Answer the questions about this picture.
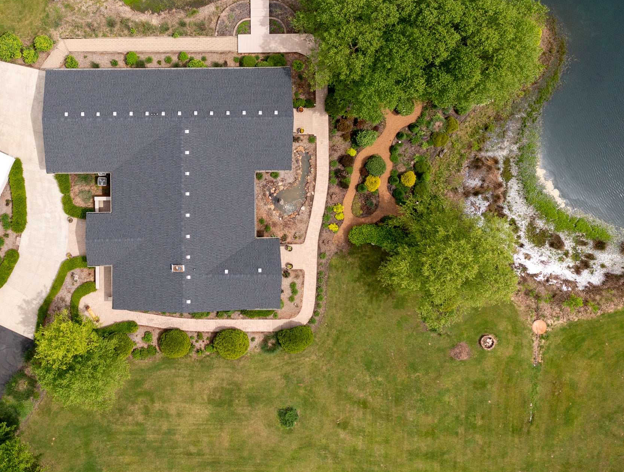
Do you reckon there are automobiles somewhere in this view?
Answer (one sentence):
No, the scene contains no automobile.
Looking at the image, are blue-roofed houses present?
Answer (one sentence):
No, the photo shows no blue-roofed house.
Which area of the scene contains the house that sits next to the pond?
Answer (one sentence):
Look in the left portion of the view to spot the house that sits next to the pond.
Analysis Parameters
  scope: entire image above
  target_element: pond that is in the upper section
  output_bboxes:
[264,144,317,222]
